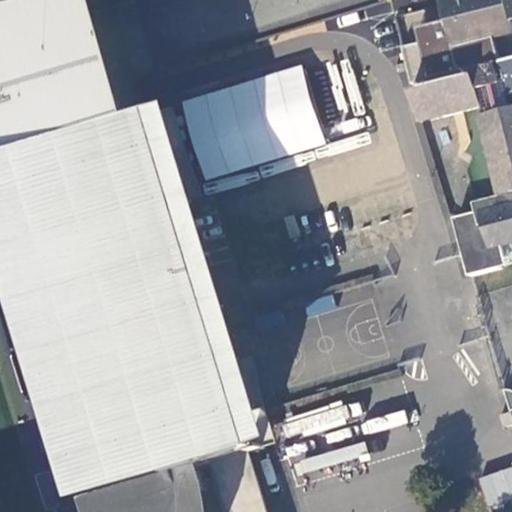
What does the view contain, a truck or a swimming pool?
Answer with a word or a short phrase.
truck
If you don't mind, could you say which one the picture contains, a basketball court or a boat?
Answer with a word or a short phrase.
basketball court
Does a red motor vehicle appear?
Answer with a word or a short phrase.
No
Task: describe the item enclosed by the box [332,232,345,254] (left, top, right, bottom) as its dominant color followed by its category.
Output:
black vehicle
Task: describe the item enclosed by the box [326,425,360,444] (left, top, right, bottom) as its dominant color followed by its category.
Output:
white vehicle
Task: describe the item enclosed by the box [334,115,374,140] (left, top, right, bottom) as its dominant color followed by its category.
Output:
white truck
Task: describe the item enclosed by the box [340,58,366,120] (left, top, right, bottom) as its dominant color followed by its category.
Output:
white trailer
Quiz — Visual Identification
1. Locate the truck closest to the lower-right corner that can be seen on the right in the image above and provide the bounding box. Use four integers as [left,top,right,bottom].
[360,408,420,436]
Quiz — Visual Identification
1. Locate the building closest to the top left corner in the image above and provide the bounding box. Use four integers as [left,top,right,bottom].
[0,0,120,142]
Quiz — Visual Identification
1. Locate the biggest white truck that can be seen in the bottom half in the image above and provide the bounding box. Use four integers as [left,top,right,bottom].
[282,404,362,439]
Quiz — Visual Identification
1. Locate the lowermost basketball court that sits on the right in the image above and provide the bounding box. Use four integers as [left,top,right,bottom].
[256,293,396,396]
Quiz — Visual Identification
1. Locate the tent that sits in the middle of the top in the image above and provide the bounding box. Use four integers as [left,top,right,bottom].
[182,66,326,184]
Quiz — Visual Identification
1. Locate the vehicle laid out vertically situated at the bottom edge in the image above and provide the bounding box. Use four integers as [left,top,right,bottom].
[260,458,277,492]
